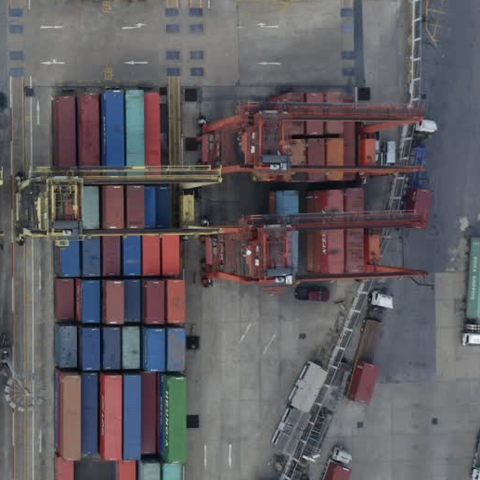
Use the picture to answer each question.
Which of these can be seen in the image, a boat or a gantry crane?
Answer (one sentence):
Of the two, only a gantry crane appears.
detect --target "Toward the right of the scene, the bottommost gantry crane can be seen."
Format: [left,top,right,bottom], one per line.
[201,203,434,289]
